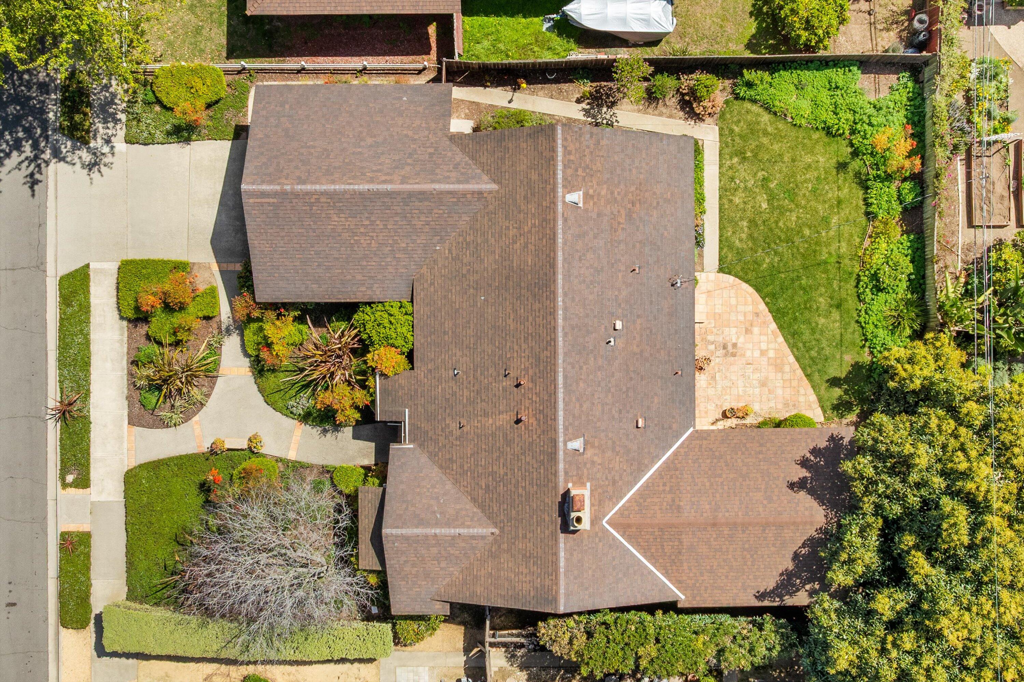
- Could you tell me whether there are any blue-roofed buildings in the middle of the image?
No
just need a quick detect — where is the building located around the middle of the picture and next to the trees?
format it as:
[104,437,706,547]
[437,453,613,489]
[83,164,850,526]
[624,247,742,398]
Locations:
[241,85,874,615]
